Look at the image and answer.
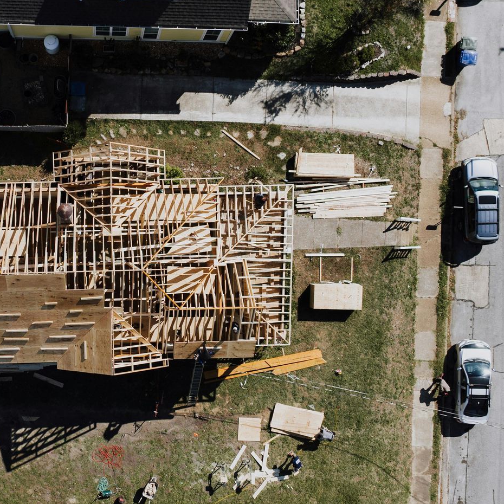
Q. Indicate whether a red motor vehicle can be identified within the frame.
No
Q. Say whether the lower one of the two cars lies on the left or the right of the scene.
right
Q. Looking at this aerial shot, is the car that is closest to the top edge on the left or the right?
right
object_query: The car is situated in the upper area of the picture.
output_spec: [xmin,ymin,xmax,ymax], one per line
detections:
[453,156,503,244]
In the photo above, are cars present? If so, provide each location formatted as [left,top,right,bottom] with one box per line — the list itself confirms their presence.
[448,338,496,423]
[453,156,503,244]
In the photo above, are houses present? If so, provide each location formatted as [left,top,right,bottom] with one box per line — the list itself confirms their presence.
[0,142,295,376]
[0,0,301,47]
